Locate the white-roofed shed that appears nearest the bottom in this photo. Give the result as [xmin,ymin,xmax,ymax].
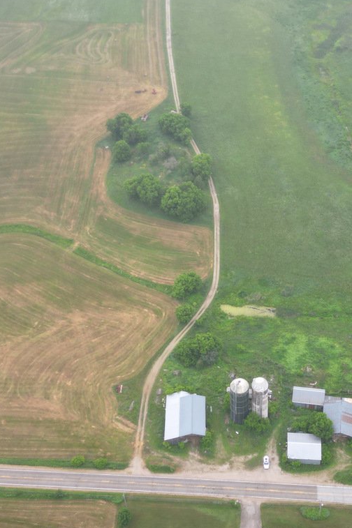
[287,434,321,465]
